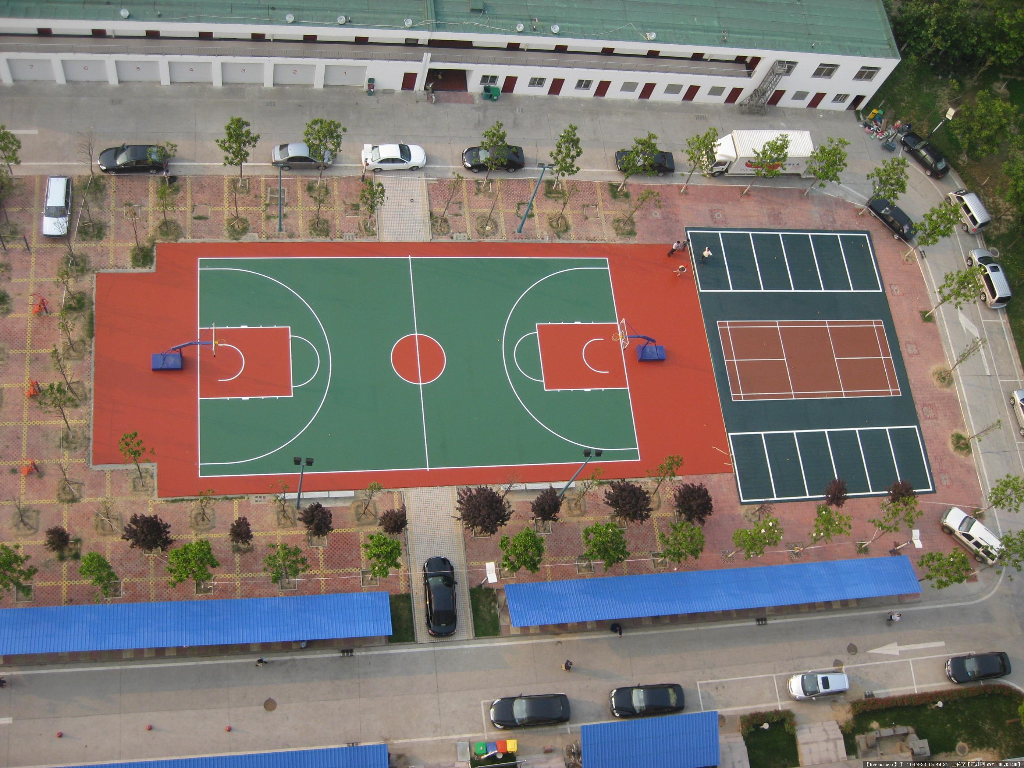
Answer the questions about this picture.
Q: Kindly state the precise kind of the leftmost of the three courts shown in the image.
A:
basketball court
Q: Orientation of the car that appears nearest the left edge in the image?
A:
vertically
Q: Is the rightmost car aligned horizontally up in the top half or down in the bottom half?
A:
bottom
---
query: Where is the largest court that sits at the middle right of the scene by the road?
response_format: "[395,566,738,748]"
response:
[684,226,936,504]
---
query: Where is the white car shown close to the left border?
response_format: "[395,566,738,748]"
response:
[40,173,75,240]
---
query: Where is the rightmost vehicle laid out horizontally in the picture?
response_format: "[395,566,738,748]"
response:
[943,650,1017,685]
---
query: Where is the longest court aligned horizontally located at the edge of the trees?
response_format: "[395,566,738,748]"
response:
[88,239,734,500]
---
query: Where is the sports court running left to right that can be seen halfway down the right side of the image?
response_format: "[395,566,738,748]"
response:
[718,319,902,401]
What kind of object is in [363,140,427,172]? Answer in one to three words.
car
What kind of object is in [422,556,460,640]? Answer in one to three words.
car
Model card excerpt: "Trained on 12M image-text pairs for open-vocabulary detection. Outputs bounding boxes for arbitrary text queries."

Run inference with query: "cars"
[968,248,1018,310]
[270,142,335,170]
[898,126,955,180]
[614,149,677,177]
[606,682,688,719]
[1010,389,1024,440]
[422,556,460,640]
[864,193,921,245]
[941,503,1015,570]
[946,184,995,237]
[486,692,571,731]
[40,173,75,240]
[363,140,427,172]
[785,668,855,703]
[943,650,1017,685]
[95,140,171,175]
